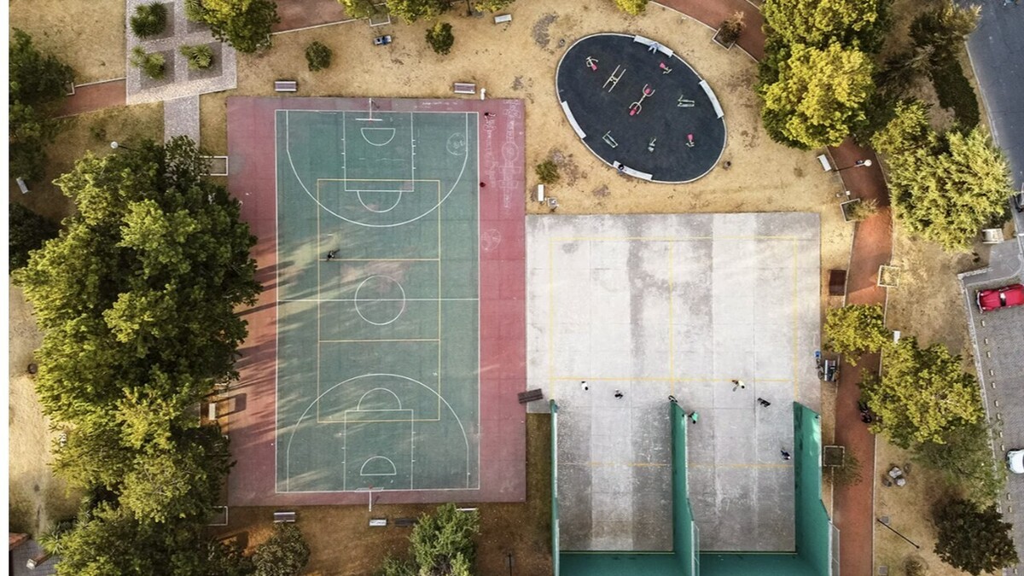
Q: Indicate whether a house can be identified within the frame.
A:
No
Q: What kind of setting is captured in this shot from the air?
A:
sports ground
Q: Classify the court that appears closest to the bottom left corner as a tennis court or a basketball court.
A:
basketball court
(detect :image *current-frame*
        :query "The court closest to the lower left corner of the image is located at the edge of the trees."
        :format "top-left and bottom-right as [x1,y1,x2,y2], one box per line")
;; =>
[227,97,525,506]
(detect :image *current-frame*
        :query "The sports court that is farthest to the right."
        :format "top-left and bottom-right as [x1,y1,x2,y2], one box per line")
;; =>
[527,214,821,553]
